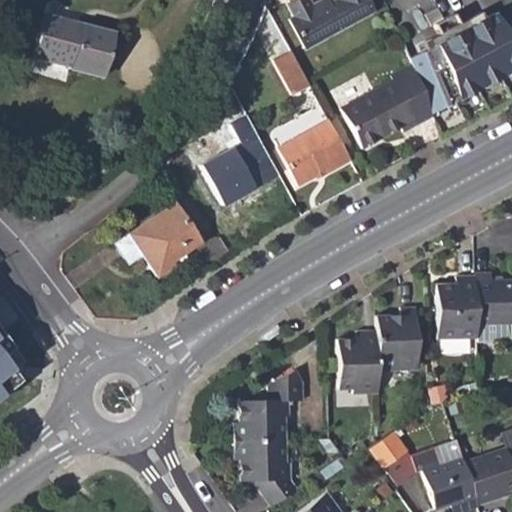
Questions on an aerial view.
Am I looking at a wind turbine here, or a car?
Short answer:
car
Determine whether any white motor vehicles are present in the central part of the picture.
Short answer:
Yes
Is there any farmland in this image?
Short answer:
No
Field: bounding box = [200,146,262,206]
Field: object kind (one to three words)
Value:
house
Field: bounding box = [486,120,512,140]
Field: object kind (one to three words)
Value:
vehicle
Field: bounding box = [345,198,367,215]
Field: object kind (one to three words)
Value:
car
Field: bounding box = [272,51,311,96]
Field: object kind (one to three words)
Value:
building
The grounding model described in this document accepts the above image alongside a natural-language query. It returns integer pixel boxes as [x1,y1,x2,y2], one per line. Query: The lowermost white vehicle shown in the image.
[195,481,214,502]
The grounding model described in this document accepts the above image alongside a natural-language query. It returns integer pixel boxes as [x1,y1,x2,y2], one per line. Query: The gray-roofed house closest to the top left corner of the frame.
[40,16,119,80]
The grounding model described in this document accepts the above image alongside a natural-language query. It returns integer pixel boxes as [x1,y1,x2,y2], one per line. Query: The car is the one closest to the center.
[220,272,242,290]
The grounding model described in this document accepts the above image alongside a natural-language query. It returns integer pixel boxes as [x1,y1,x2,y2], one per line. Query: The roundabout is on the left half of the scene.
[45,327,190,458]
